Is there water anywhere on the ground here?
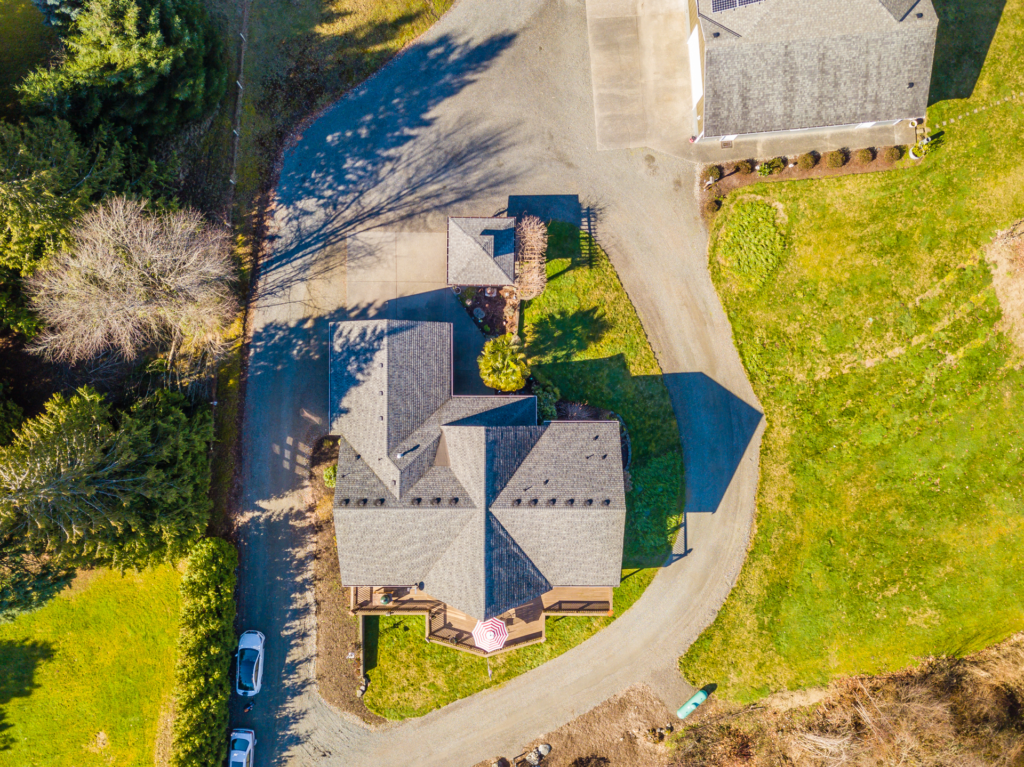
No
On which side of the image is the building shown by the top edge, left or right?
right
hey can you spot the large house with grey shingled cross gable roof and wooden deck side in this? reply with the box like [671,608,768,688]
[327,319,626,621]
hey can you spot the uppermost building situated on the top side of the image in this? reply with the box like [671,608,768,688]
[682,0,942,144]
